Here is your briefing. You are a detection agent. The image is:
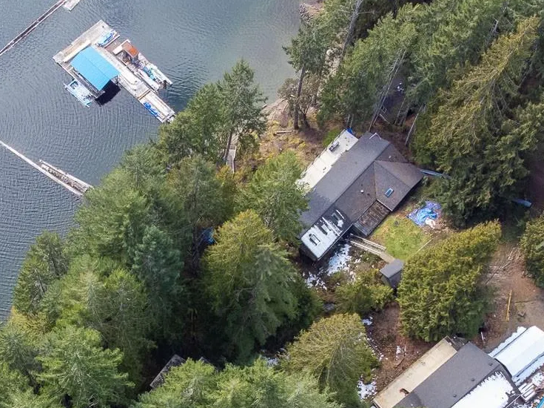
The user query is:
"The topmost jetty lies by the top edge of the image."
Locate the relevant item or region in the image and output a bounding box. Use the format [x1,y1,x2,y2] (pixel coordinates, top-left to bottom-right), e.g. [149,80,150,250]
[52,20,150,99]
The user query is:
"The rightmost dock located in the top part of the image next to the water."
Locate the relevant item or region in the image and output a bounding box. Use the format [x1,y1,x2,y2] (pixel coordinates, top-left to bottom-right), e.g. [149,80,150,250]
[140,88,177,124]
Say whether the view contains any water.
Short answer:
Yes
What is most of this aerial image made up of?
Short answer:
trees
